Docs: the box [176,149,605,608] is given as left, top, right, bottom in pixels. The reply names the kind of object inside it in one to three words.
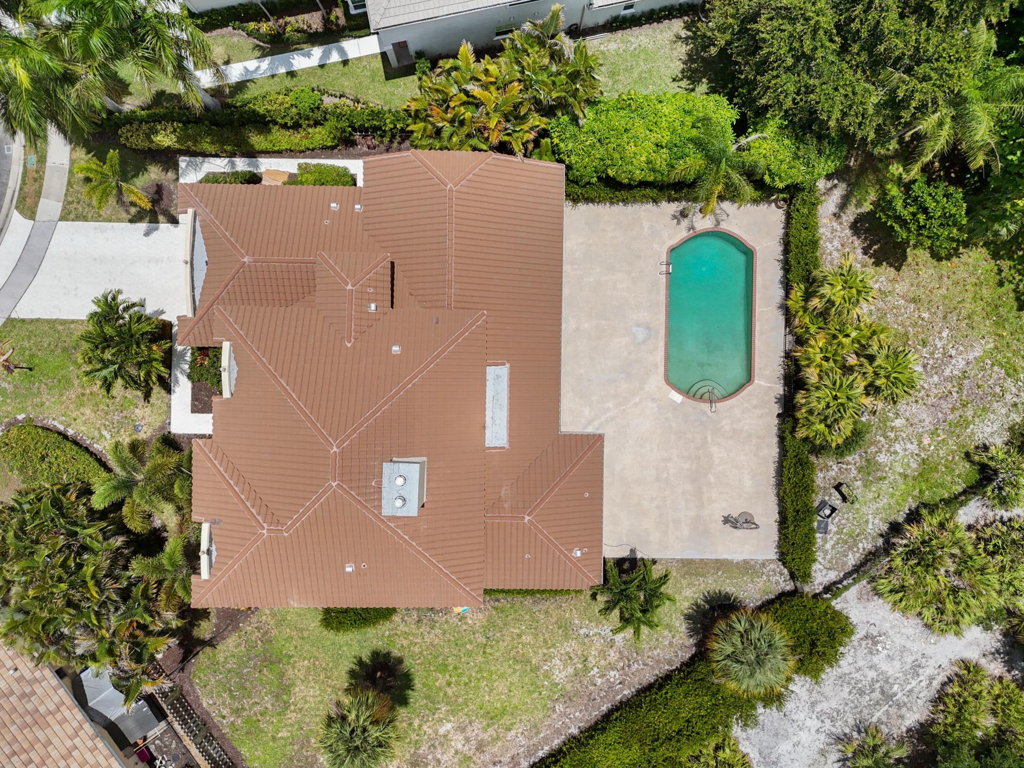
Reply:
house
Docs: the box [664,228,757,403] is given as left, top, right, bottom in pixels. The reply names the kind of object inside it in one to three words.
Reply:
swimming pool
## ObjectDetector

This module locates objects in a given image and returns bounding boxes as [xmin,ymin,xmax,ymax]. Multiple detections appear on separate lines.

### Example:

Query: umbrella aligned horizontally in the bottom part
[722,513,759,529]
